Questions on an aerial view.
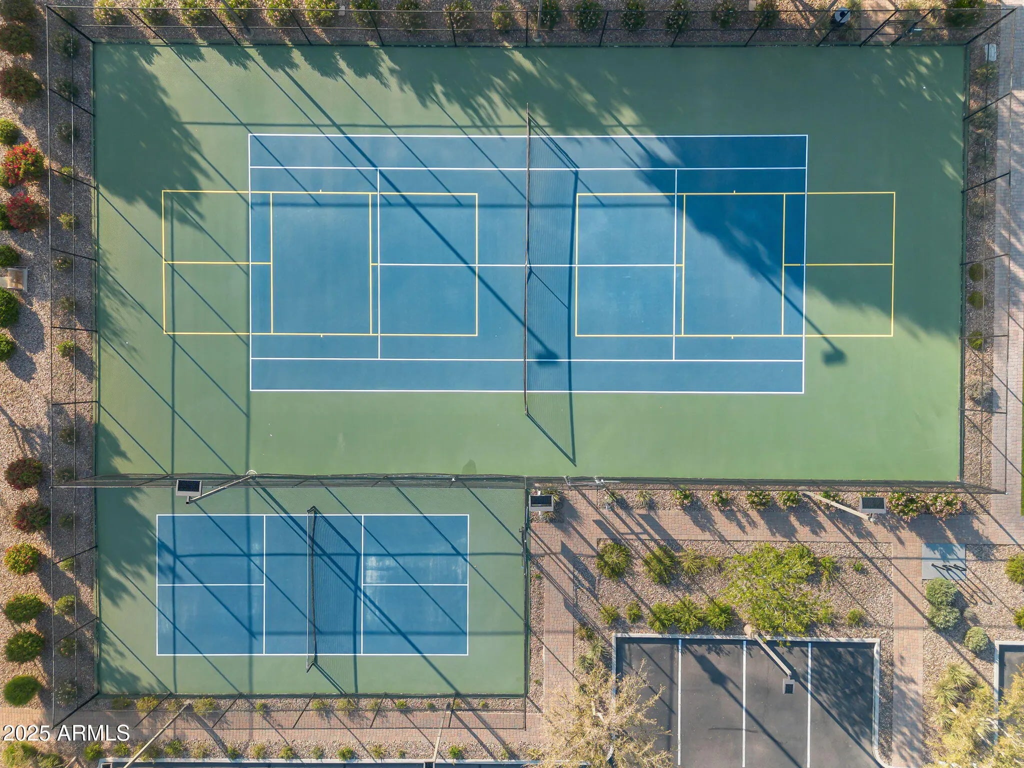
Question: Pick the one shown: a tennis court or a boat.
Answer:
tennis court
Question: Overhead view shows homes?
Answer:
No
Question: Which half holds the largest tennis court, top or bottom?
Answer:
top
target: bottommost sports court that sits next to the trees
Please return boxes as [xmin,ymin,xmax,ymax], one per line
[93,481,531,700]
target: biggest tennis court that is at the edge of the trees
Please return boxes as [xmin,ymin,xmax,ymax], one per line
[90,37,971,483]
